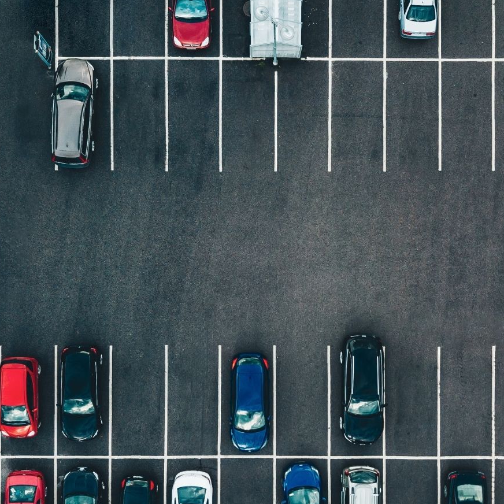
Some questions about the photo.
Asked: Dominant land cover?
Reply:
paved ground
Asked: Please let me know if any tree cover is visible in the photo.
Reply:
No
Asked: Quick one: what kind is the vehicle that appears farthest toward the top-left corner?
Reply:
automobile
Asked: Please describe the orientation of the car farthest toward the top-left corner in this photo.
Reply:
vertically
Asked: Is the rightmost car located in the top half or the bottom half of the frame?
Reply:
bottom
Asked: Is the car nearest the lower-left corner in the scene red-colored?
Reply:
Yes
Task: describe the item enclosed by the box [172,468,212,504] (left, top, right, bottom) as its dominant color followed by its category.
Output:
white car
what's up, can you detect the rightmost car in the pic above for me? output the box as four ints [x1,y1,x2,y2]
[446,468,490,504]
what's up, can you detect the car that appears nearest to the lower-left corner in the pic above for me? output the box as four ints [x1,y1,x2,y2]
[3,467,48,504]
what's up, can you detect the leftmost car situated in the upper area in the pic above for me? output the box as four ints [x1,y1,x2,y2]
[46,58,97,169]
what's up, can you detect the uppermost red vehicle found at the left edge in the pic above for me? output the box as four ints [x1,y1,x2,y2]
[0,356,41,439]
